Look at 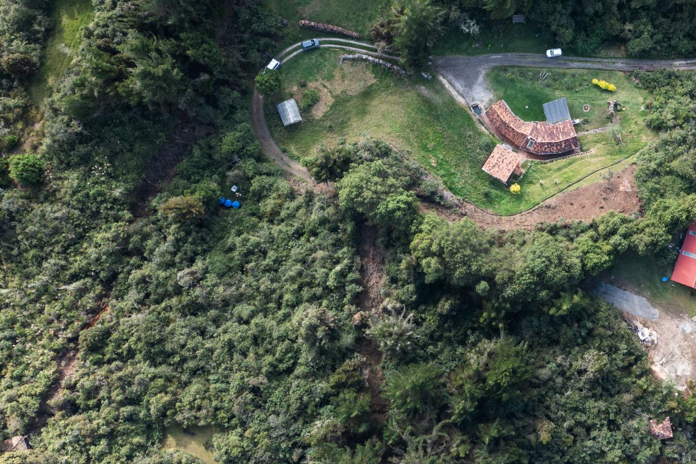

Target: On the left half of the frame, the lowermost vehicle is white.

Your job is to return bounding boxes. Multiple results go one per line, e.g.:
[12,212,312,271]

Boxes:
[264,57,280,72]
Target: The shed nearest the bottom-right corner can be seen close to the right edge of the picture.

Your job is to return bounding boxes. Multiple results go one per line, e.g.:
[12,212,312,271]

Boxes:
[650,416,673,439]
